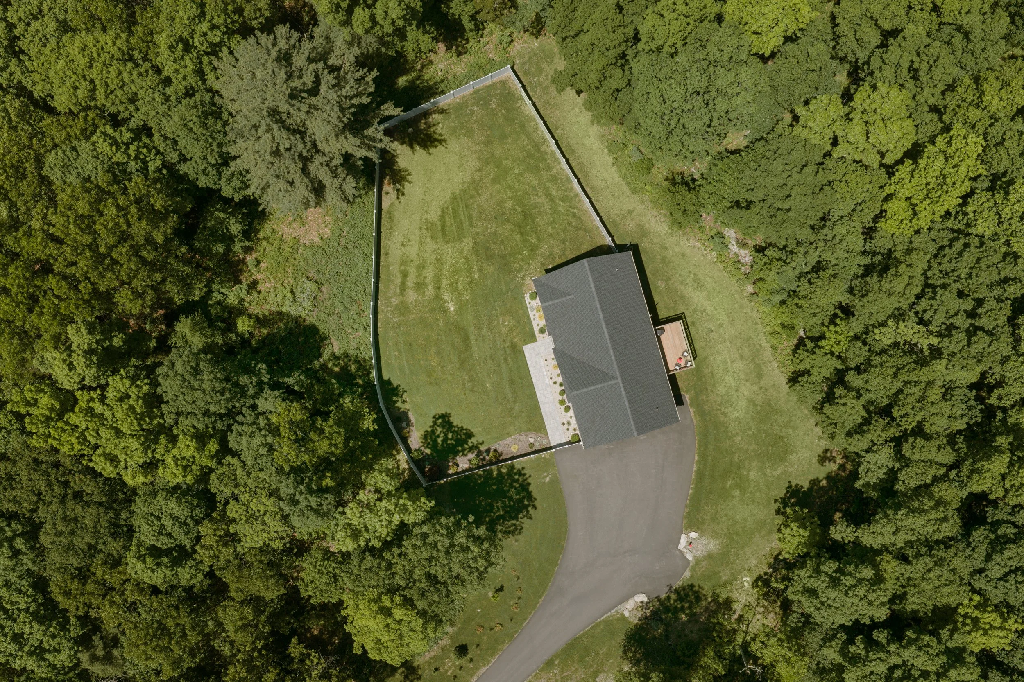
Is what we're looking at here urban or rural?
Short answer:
rural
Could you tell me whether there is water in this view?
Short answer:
No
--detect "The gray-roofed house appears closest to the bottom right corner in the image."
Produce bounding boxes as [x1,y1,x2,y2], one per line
[531,251,684,450]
